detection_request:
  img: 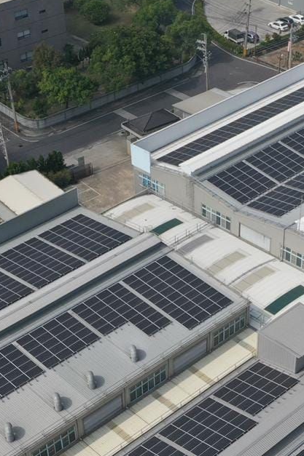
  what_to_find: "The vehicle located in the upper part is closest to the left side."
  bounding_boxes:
[221,25,249,42]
